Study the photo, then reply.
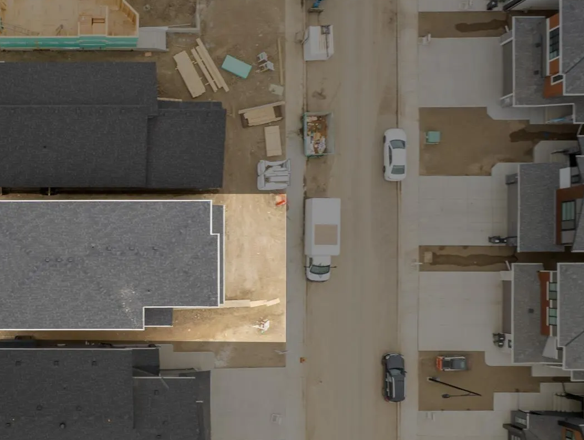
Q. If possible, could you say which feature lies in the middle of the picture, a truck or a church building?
truck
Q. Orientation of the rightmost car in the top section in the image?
from top to bottom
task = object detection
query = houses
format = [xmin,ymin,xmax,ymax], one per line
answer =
[0,61,226,199]
[0,336,212,440]
[0,0,199,52]
[507,394,584,440]
[0,199,225,332]
[502,261,584,383]
[494,0,584,125]
[506,134,584,254]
